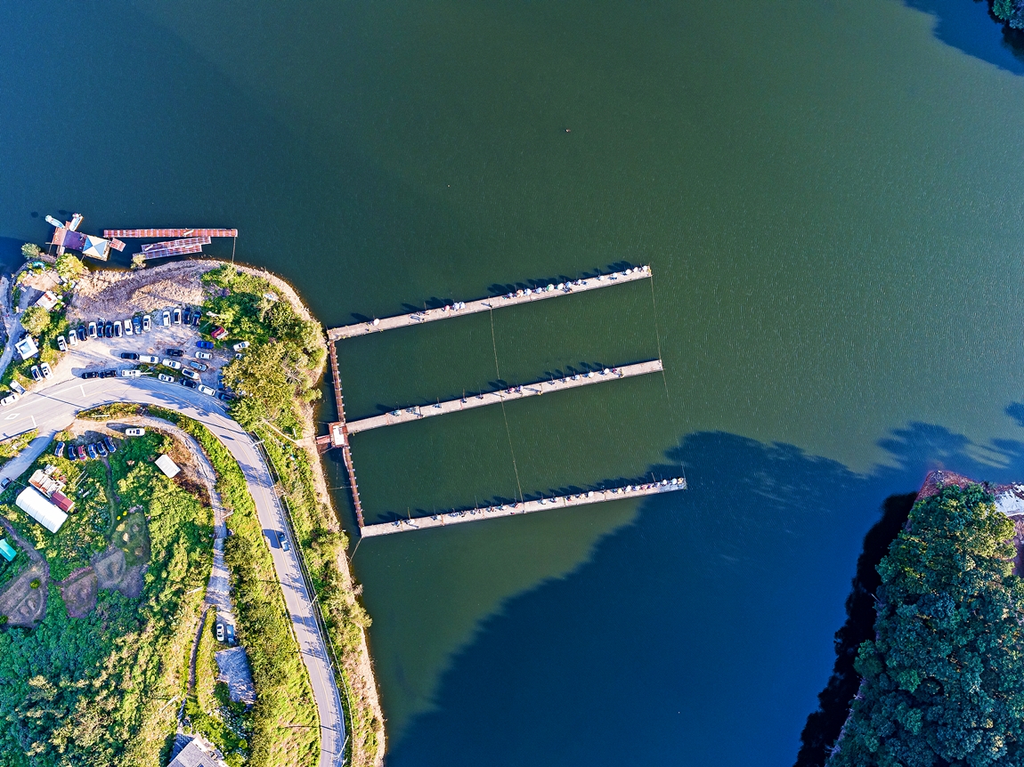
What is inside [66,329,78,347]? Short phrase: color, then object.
white vehicle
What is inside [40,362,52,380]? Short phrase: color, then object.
white vehicle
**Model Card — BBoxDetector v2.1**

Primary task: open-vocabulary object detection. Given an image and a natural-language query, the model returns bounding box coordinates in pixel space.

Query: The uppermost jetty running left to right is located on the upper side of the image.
[328,267,652,341]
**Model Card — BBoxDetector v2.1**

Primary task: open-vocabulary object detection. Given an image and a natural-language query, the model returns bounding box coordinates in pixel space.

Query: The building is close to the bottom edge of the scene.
[167,736,231,767]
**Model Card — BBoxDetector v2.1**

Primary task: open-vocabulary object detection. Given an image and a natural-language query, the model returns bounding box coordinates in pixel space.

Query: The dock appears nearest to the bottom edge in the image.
[362,478,686,537]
